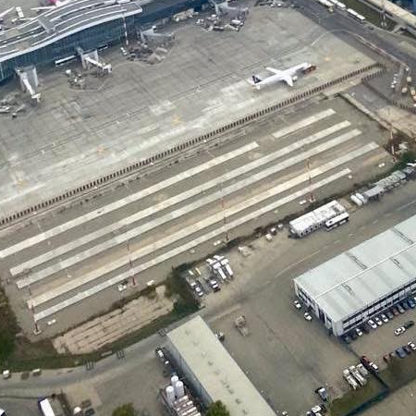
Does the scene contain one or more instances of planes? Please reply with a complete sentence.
Yes, there's a plane down there.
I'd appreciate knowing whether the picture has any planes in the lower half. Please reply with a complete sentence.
No, no plane appears in the lower half.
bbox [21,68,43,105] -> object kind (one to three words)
jet bridge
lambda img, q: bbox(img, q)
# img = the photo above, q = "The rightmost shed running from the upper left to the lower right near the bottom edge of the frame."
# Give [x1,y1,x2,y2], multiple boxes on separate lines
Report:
[166,314,276,416]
